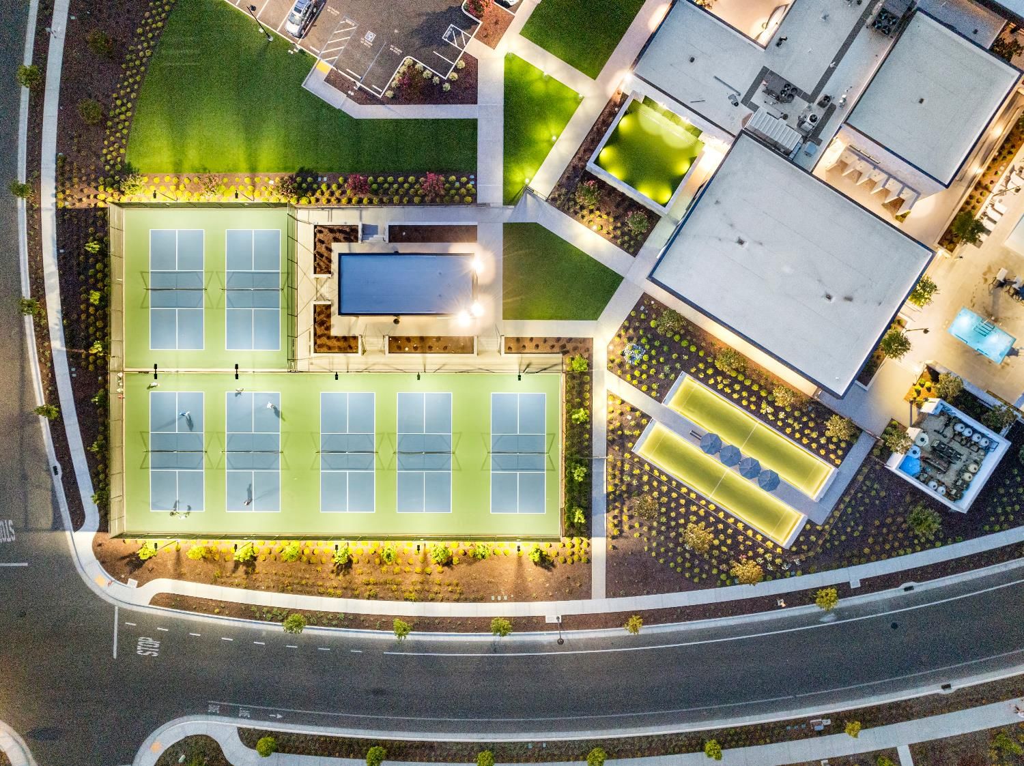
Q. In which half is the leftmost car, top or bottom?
top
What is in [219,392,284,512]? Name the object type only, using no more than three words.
sports court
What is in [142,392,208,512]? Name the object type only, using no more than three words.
sports court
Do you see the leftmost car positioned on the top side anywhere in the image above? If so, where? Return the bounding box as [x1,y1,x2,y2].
[289,0,320,33]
